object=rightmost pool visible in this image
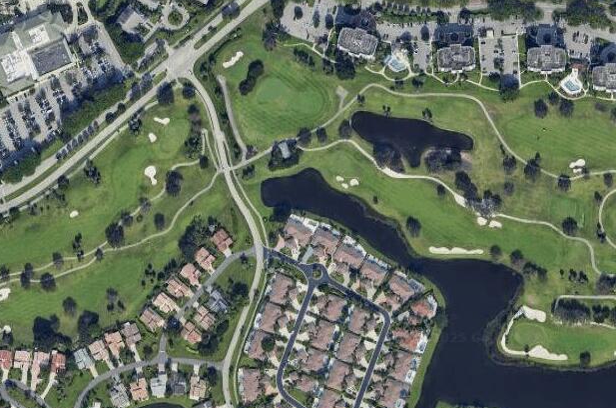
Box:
[565,78,581,93]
